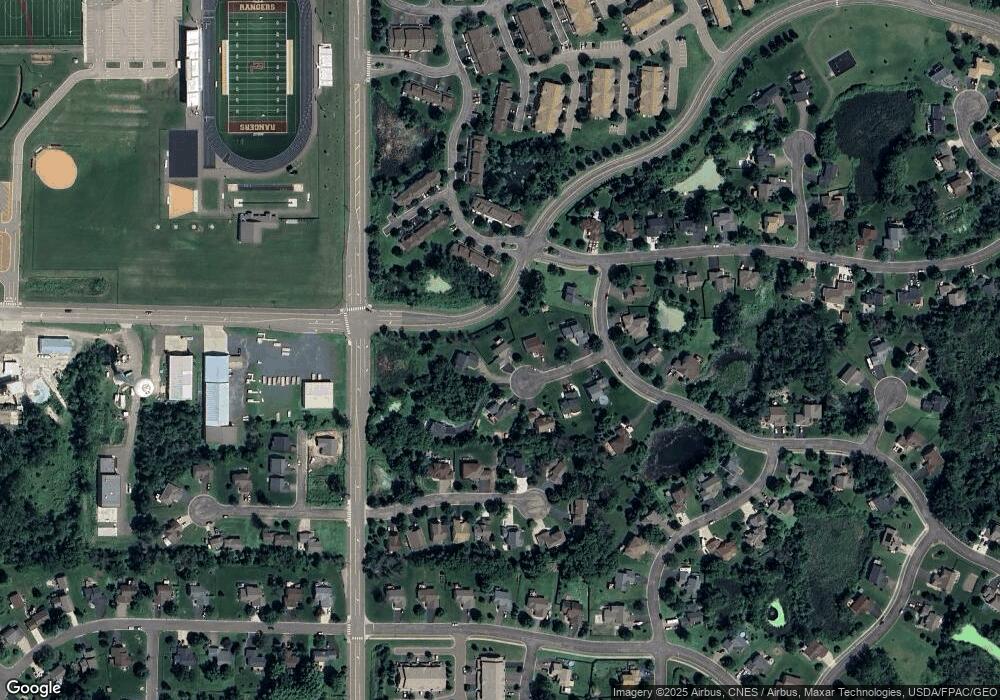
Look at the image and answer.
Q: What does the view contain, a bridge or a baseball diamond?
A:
baseball diamond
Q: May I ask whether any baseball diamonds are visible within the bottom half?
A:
No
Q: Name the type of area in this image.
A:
residential area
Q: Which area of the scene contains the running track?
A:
top left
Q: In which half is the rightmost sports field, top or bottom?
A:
top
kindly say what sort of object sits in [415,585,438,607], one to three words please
house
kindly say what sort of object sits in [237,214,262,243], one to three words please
shed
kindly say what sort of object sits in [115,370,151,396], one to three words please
water tower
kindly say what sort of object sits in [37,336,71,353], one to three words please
building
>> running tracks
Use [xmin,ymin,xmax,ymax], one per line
[203,0,311,172]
